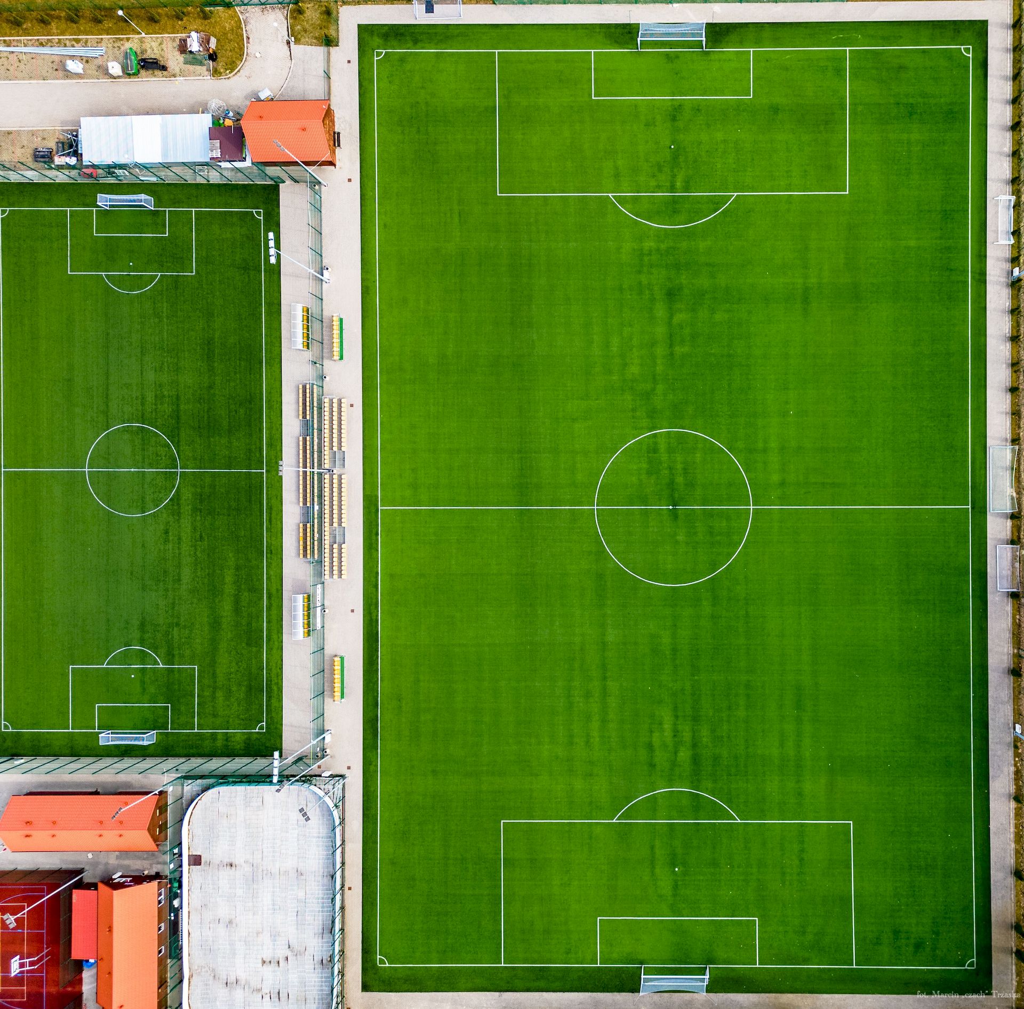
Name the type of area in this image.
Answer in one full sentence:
It's a sports ground.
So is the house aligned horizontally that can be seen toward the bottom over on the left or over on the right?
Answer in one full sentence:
You can find the house aligned horizontally that can be seen toward the bottom on the left side of the picture.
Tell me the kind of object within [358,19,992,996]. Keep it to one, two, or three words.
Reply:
sports field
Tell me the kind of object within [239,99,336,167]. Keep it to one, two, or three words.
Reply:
house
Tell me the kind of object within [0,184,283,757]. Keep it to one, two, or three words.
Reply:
sports field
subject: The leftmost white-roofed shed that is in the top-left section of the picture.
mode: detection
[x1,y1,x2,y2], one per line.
[80,113,219,168]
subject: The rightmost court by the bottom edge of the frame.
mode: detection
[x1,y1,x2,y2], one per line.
[181,779,345,1009]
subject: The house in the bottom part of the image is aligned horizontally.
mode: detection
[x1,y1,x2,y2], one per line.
[0,788,169,852]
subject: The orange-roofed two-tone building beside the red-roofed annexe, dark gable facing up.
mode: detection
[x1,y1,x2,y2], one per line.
[96,874,170,1009]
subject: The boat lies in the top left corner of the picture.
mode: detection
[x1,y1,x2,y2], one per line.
[123,48,137,73]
